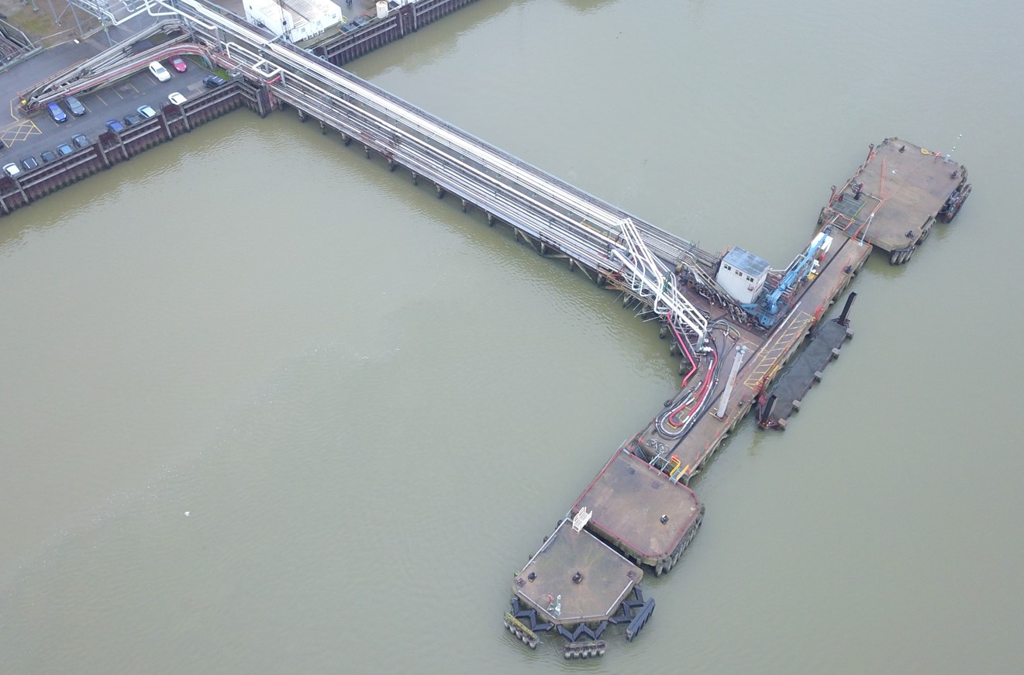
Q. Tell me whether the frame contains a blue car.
Yes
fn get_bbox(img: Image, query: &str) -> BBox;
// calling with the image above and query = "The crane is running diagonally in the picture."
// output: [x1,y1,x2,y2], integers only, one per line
[741,226,833,330]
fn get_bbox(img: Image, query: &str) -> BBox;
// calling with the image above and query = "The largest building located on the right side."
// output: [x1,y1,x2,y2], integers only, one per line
[717,246,772,302]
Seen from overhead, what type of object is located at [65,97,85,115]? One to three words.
car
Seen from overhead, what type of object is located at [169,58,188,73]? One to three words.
car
